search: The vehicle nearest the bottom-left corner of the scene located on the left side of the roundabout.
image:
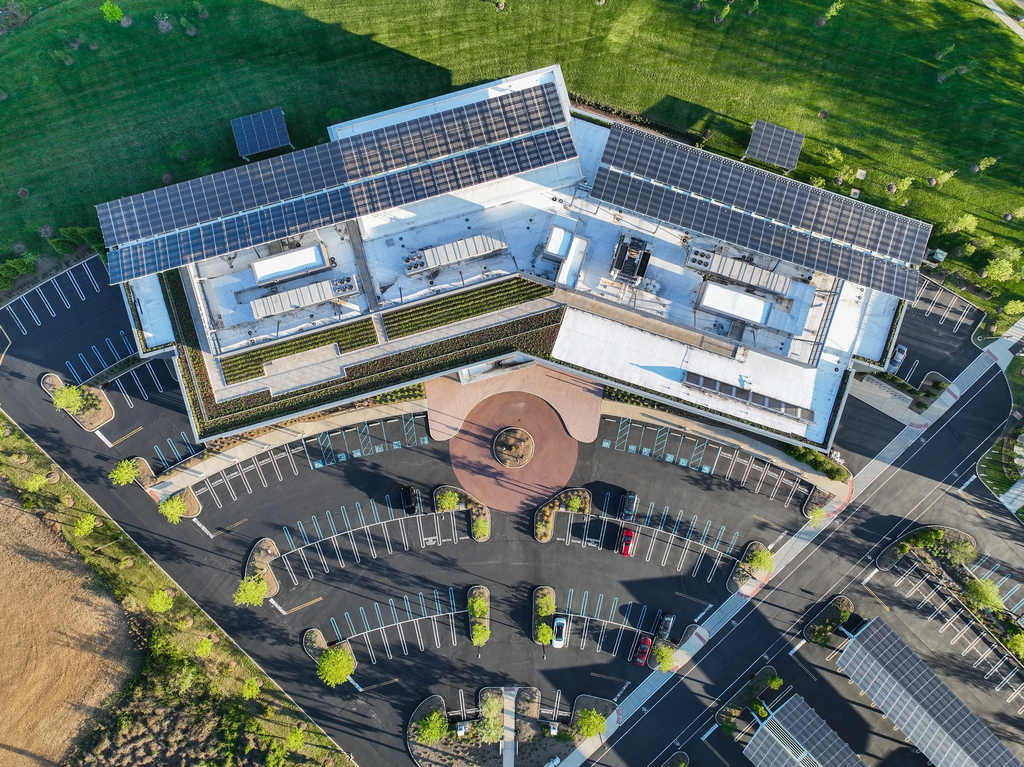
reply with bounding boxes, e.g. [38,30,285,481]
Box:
[402,485,418,516]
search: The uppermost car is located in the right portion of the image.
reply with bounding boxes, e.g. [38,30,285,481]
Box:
[886,343,906,374]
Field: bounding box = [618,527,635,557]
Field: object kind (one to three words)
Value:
car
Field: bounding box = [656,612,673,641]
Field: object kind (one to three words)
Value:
car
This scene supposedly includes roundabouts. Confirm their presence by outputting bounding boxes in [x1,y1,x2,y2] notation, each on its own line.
[449,391,578,512]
